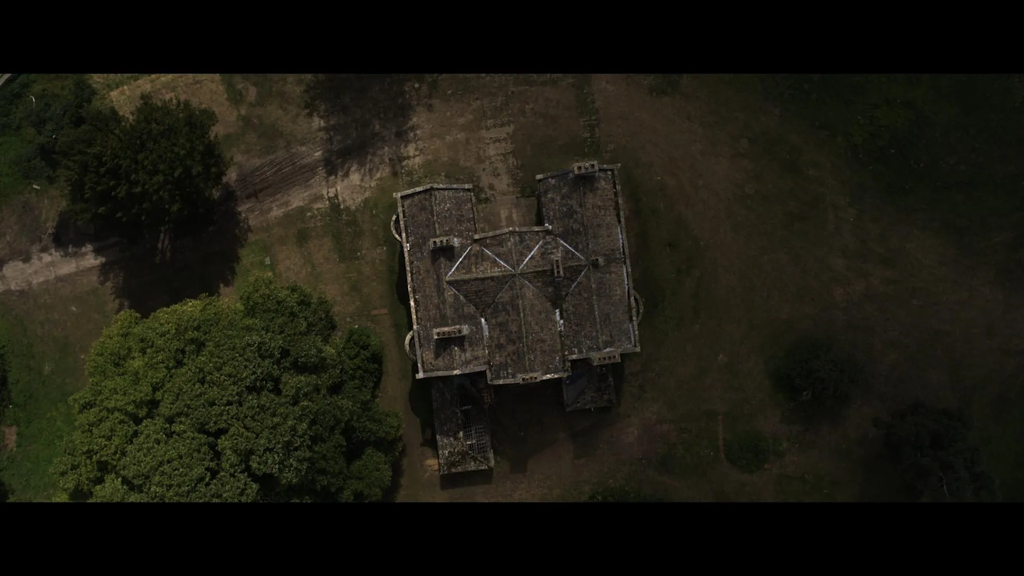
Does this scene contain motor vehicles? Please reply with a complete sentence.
No, no motor vehicle can be seen from above.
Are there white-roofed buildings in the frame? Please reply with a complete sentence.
No, there's no white-roofed building here.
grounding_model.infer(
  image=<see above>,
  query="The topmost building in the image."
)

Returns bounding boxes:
[390,163,645,385]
